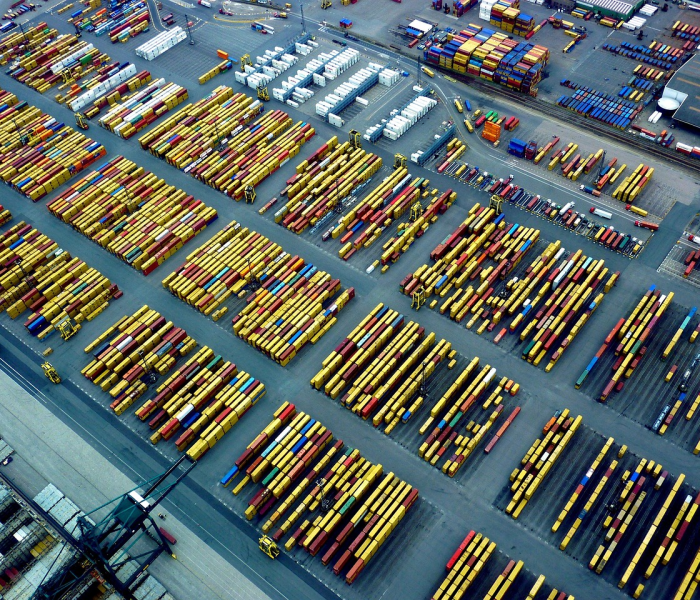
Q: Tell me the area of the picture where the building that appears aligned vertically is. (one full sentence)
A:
The building that appears aligned vertically sits in the top right section of the image.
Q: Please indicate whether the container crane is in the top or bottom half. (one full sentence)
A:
The container crane sits in the bottom half of the picture.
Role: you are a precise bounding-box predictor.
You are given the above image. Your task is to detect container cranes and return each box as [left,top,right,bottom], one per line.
[20,454,198,600]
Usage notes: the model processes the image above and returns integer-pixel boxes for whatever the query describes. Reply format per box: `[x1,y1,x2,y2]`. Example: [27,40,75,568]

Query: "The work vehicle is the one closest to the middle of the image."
[410,287,426,310]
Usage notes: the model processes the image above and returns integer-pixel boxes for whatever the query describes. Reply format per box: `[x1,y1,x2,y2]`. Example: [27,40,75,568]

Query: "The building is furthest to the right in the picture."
[662,53,700,139]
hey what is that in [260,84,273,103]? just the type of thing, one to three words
vehicle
